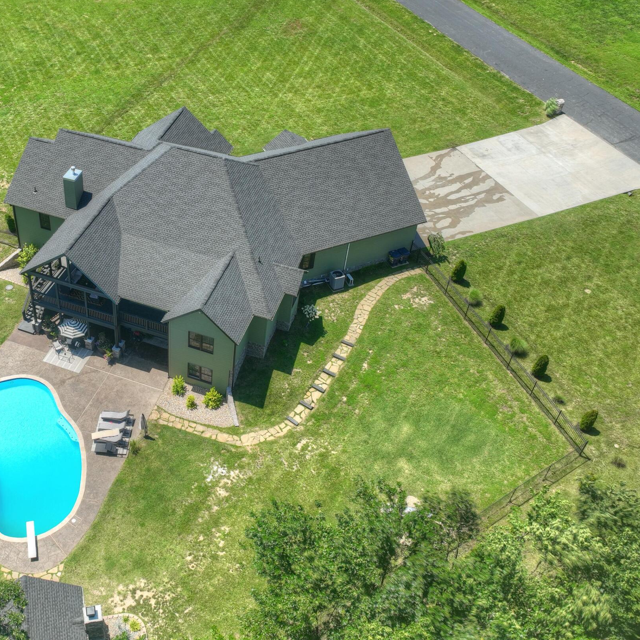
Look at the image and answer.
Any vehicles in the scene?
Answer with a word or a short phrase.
No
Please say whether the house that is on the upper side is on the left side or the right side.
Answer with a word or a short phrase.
left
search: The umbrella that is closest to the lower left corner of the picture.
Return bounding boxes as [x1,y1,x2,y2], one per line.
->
[139,410,153,442]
